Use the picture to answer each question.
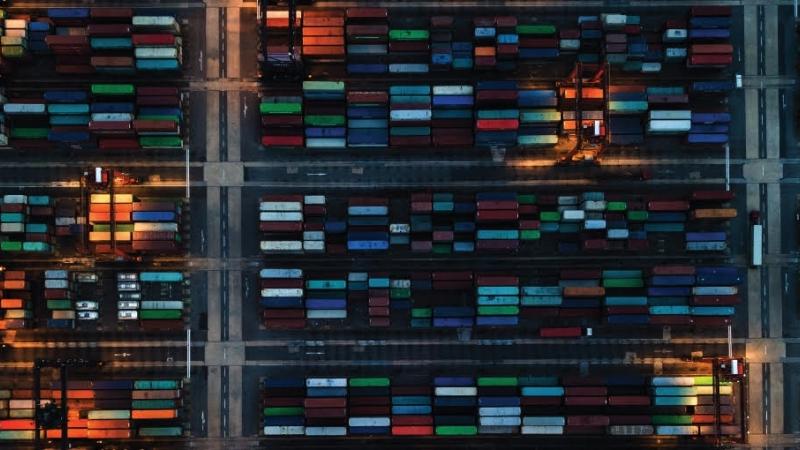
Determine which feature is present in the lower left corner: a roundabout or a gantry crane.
gantry crane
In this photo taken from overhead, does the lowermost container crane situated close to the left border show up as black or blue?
black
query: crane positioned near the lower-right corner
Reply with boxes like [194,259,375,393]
[680,355,752,445]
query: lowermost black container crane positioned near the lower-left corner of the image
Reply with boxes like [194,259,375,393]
[32,359,101,450]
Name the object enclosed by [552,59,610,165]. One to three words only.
container crane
